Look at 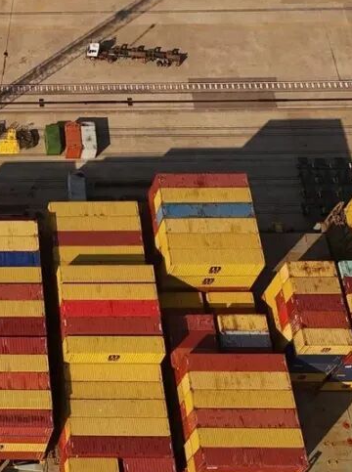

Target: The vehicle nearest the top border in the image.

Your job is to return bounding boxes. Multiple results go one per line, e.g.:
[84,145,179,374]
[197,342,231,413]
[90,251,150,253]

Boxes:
[85,40,174,69]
